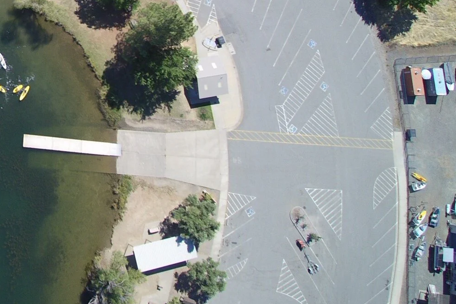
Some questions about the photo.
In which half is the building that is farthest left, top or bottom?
bottom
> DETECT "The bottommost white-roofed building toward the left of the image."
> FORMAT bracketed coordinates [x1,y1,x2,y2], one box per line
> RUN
[134,233,197,272]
